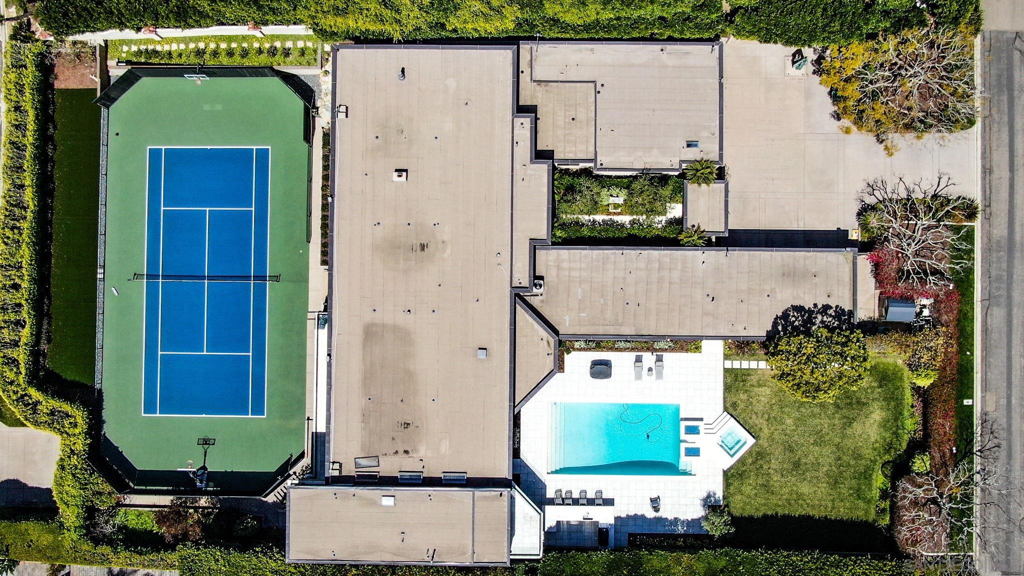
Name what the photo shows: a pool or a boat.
pool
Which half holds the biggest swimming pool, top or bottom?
bottom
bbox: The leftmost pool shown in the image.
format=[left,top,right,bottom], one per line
[545,399,698,479]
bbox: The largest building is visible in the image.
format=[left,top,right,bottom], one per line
[286,41,857,566]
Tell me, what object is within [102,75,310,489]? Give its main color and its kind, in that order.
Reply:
green tennis court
